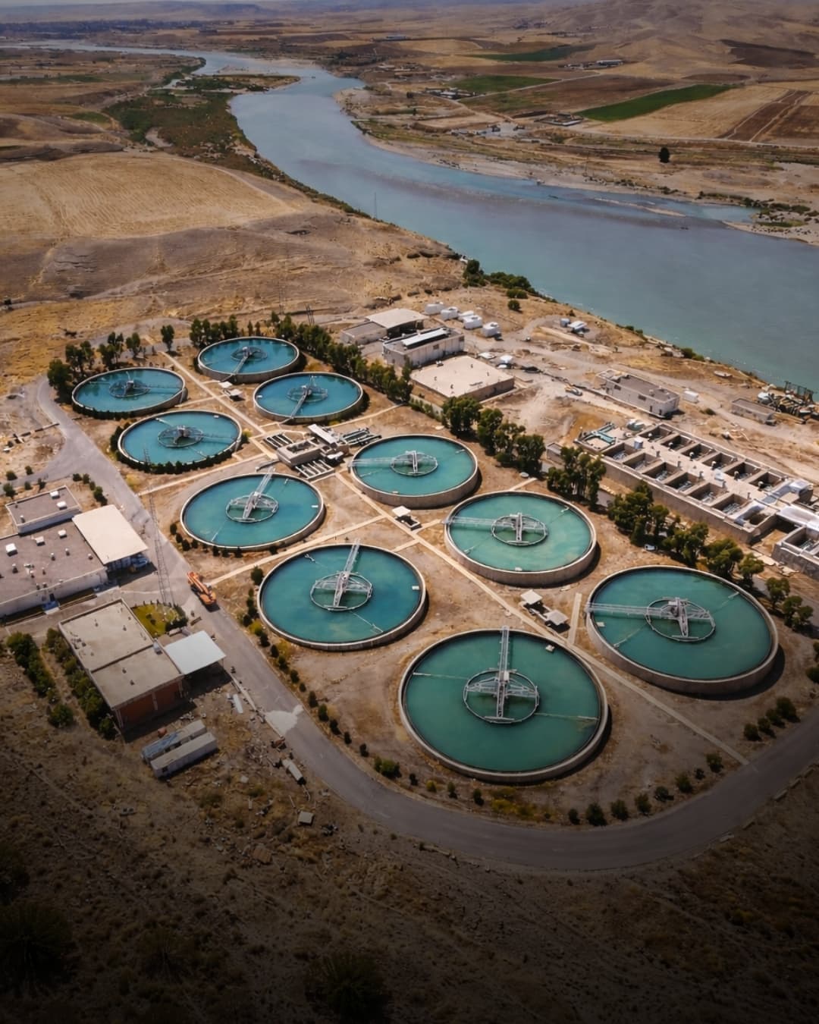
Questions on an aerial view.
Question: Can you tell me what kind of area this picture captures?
industrial area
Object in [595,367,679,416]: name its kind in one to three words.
building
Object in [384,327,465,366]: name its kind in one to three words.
building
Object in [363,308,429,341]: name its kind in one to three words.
shed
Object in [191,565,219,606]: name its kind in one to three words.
work vehicle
